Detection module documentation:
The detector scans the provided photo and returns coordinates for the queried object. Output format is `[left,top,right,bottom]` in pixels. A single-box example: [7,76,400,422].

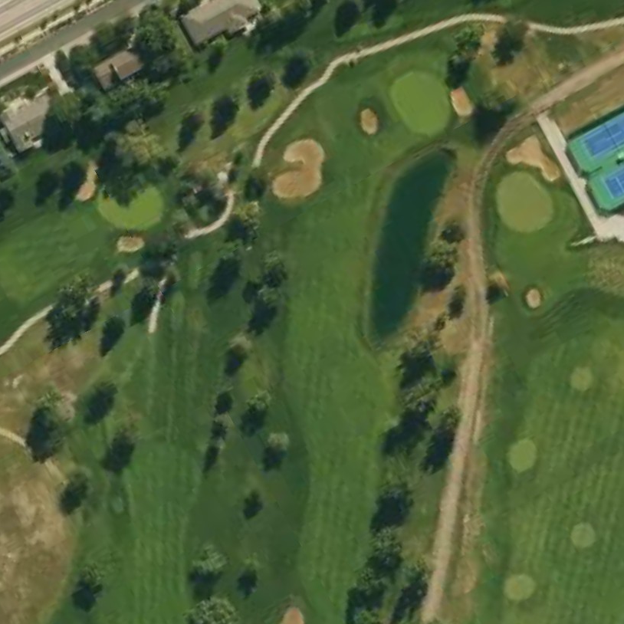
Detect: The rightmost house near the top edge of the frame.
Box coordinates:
[176,0,263,47]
